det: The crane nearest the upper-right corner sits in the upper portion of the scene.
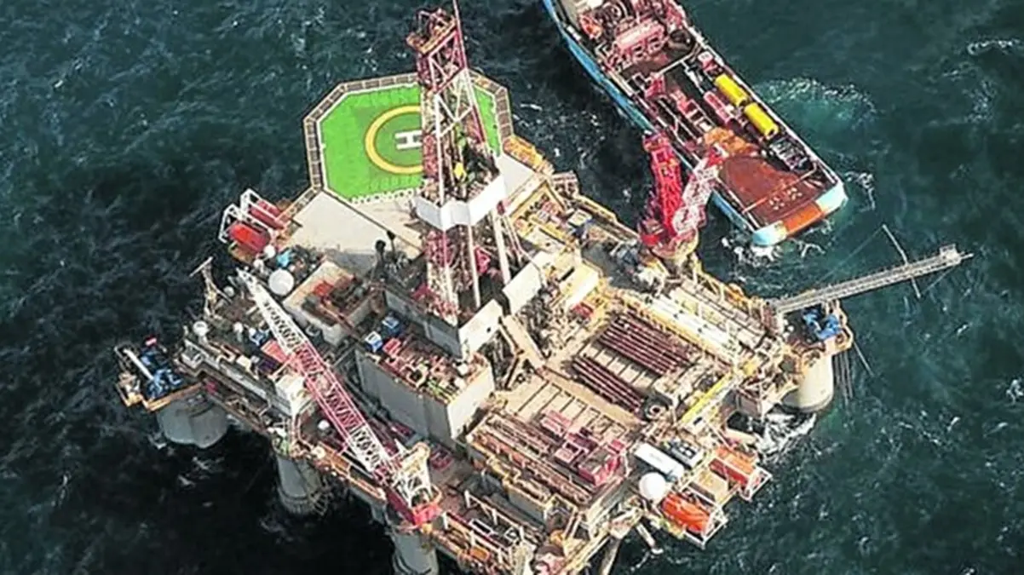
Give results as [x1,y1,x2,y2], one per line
[642,139,722,296]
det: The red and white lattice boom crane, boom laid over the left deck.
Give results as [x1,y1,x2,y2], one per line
[230,268,458,542]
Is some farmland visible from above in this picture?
No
